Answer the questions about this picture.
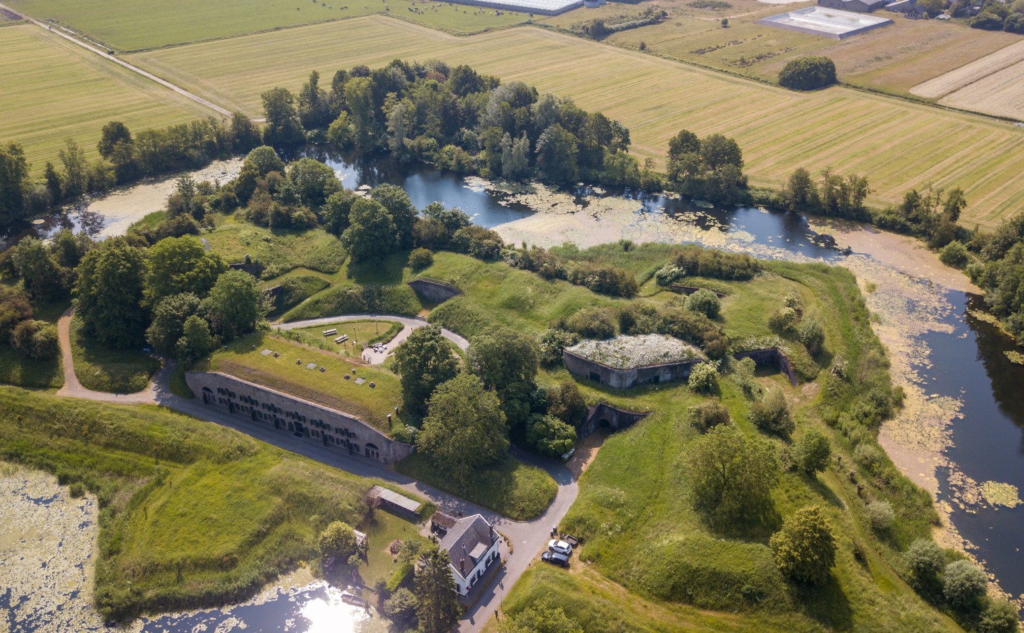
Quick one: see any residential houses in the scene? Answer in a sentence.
Yes, looking at the shot, I can spot a residential house.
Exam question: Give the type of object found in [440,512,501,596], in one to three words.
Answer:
house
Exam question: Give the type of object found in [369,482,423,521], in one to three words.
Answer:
shed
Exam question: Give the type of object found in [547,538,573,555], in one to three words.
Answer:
car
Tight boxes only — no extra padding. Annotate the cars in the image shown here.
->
[542,552,570,570]
[547,538,573,555]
